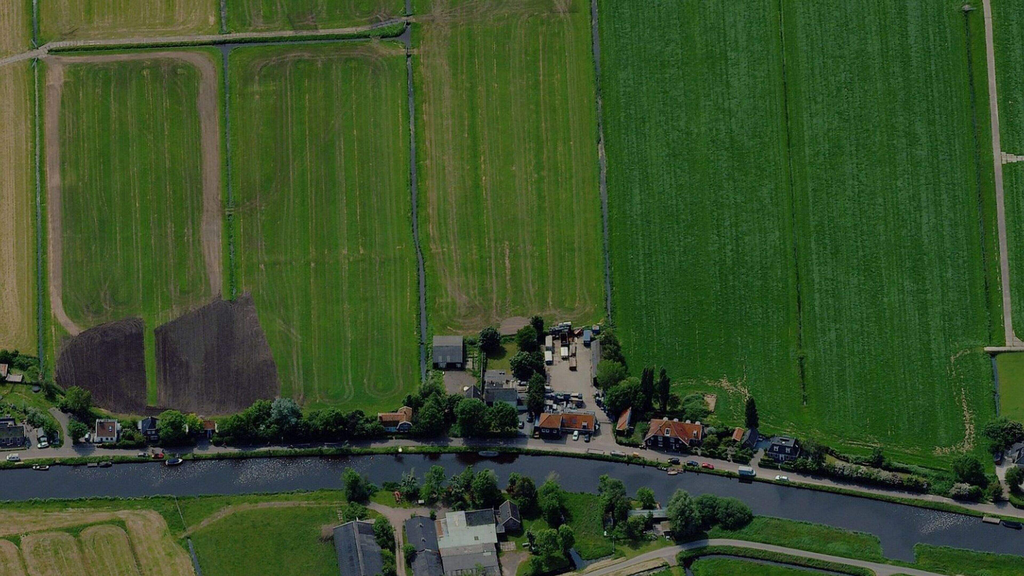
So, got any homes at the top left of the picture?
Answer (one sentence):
No, looking at the top left of the picture, there is no home.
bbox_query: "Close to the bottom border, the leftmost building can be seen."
[333,521,381,576]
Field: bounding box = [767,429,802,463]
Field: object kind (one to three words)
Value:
house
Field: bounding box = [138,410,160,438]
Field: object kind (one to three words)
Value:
house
